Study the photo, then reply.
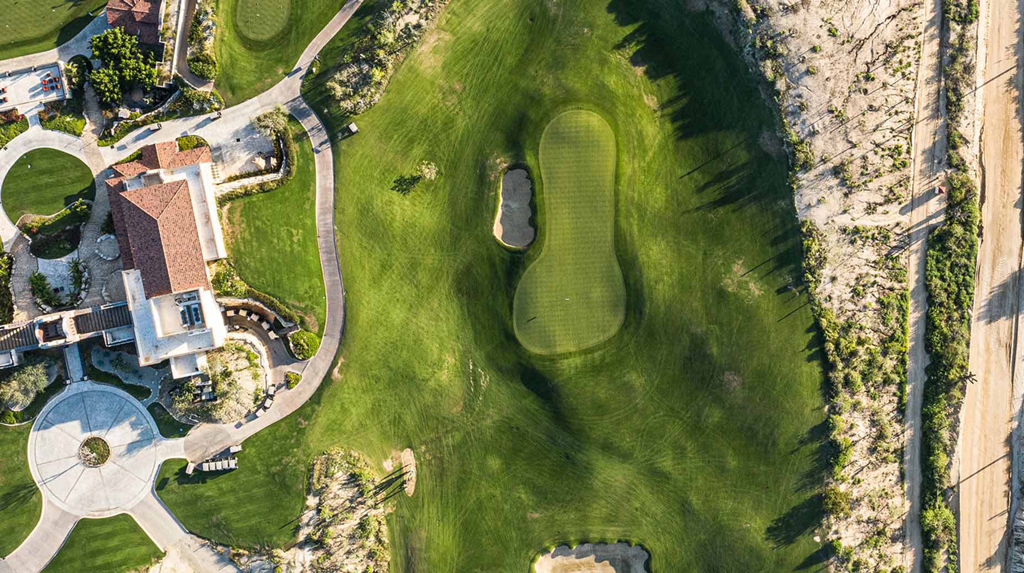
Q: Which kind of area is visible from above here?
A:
golf course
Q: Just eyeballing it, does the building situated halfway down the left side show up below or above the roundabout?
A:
above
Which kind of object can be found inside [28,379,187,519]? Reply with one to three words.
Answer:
roundabout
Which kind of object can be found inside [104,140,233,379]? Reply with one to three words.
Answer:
building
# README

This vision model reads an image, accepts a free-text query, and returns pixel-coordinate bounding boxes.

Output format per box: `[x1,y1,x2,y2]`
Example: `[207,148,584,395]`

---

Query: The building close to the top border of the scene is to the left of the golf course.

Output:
[106,0,167,48]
